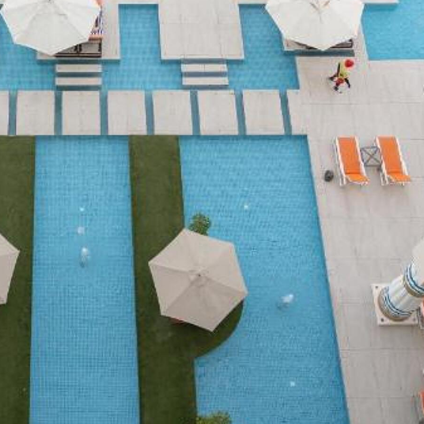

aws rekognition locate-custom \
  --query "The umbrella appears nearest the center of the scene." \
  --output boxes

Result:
[147,228,249,332]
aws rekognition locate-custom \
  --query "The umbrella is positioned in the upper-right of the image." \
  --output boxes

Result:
[267,0,363,59]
